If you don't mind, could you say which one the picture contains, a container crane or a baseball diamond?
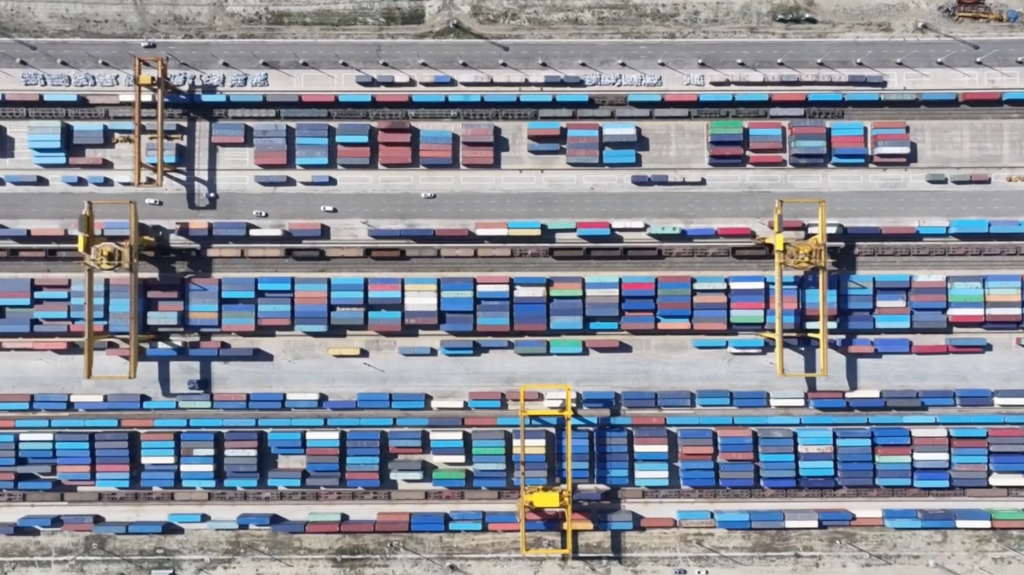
container crane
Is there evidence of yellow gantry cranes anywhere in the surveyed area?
Yes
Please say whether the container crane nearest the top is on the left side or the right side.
left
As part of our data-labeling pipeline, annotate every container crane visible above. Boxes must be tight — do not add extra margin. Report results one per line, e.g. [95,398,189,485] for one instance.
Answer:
[77,201,164,379]
[756,199,827,376]
[133,57,183,186]
[515,385,572,556]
